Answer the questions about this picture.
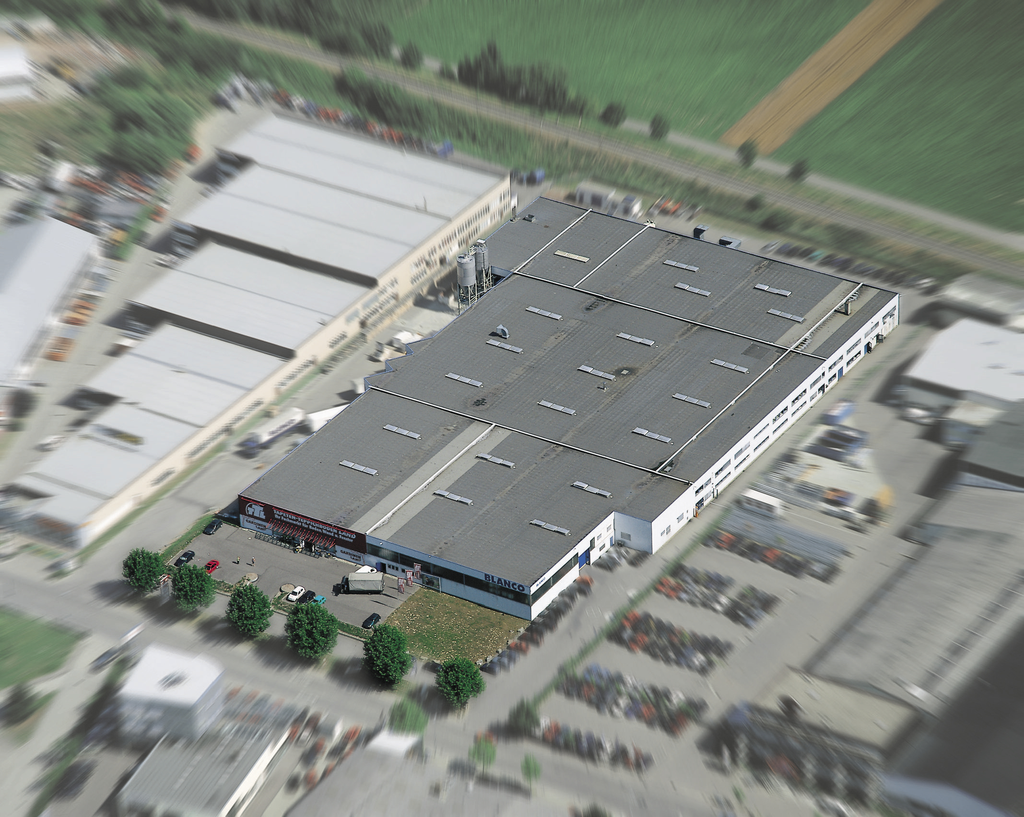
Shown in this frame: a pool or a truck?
truck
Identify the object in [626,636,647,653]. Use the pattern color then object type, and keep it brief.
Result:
red car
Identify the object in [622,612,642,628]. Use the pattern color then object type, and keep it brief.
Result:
red car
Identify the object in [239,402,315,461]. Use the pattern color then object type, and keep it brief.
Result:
white truck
